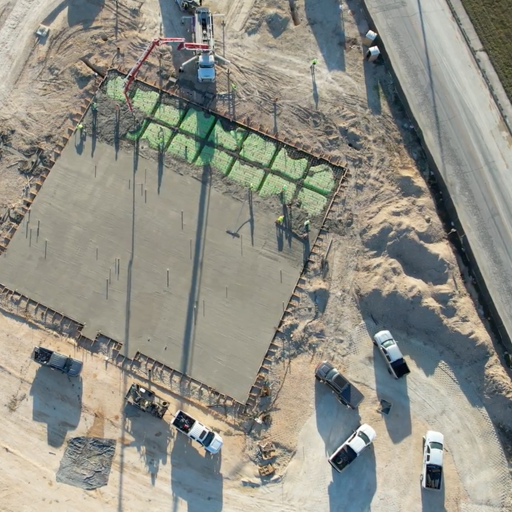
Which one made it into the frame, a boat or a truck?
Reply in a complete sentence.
I can see a truck in this picture.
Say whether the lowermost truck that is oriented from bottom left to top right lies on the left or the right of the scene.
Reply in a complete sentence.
It is on the right.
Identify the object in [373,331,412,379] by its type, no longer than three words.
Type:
truck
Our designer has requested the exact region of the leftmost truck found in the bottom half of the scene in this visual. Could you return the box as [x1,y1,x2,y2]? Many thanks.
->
[31,345,84,378]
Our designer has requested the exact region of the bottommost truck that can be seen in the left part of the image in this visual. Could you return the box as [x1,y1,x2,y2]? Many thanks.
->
[170,409,223,453]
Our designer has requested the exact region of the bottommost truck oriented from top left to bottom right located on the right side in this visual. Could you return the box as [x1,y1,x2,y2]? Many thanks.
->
[313,362,364,410]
